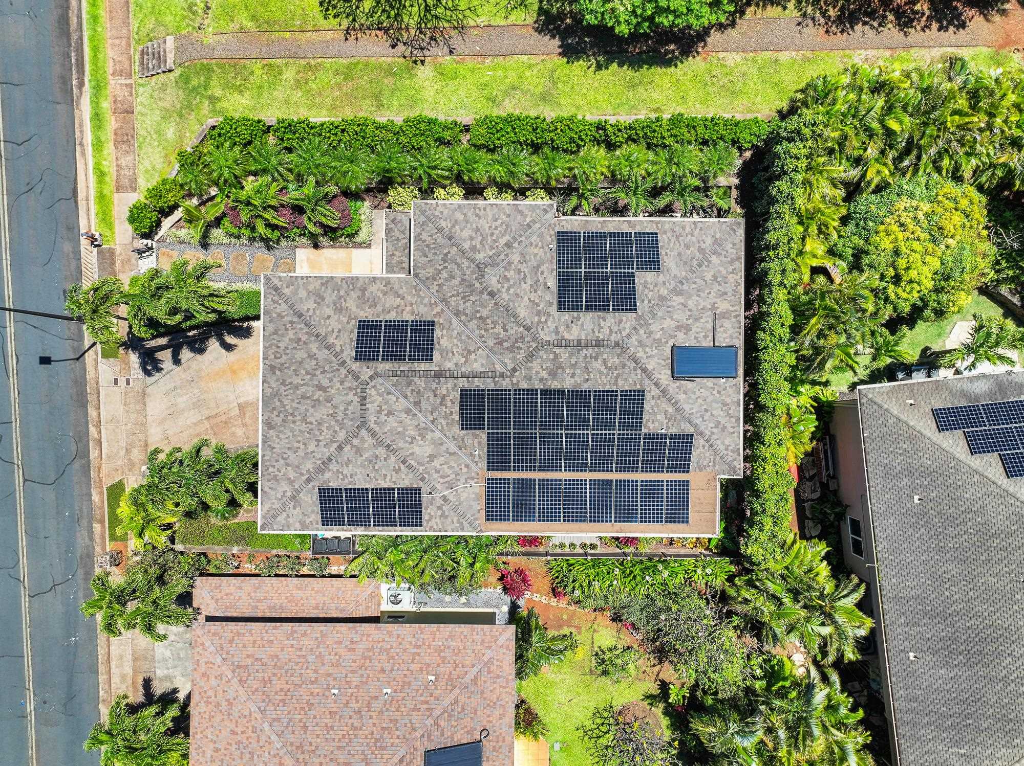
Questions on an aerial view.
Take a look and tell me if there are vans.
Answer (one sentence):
No, there appears to be no van in this shot.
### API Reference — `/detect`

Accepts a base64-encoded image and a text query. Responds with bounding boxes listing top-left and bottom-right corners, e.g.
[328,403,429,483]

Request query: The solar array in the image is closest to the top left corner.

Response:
[353,319,435,362]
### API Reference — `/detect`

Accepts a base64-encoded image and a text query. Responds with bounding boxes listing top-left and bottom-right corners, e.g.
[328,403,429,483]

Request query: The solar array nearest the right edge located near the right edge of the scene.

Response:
[933,395,1024,479]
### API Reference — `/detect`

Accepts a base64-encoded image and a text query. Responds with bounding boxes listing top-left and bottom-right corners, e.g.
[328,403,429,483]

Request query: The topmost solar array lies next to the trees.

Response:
[556,230,662,312]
